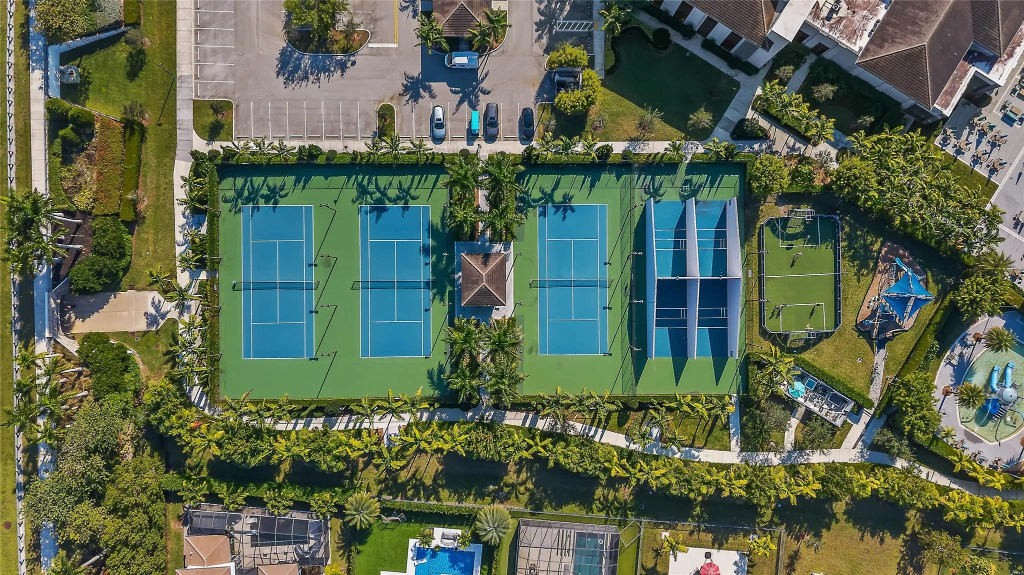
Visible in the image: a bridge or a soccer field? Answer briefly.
soccer field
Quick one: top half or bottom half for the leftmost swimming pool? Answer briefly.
bottom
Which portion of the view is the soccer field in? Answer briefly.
right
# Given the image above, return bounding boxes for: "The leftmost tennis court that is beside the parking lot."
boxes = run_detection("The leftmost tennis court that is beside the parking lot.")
[242,205,315,359]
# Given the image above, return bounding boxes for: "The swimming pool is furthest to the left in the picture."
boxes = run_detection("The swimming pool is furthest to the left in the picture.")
[249,517,312,549]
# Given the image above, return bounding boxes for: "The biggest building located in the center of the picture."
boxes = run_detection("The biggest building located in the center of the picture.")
[460,253,507,307]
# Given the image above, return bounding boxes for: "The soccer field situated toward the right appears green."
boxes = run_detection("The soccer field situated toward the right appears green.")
[767,218,839,332]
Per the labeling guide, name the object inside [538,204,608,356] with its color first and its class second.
blue tennis court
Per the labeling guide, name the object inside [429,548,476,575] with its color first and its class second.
blue swimming pool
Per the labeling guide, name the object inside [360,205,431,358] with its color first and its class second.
blue tennis court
